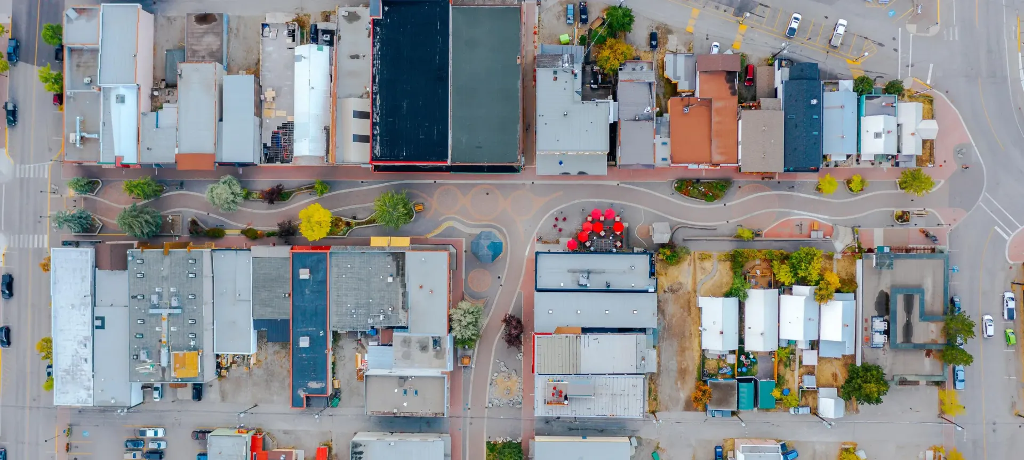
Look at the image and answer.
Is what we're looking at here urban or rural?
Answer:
urban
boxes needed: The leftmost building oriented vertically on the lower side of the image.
[52,243,99,406]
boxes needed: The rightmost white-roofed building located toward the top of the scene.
[893,101,939,167]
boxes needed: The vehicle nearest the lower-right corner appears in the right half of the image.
[953,366,966,389]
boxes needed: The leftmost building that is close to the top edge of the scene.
[63,5,102,165]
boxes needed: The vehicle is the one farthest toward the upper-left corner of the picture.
[6,38,20,63]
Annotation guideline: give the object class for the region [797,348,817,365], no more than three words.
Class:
shed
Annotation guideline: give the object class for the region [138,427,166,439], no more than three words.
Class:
vehicle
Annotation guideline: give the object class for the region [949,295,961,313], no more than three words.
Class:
vehicle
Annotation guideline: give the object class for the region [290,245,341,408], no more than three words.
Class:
building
